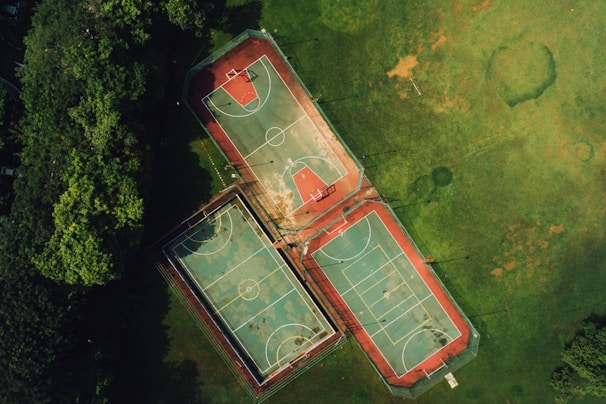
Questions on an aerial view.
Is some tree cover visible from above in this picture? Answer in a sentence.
Yes, tree cover shows up in the scene.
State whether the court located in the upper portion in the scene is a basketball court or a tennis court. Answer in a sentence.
I'd identify the court located in the upper portion as a basketball court.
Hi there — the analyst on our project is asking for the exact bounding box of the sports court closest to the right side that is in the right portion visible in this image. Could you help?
[302,200,470,386]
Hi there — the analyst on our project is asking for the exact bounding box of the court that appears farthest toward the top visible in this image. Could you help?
[189,37,361,232]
